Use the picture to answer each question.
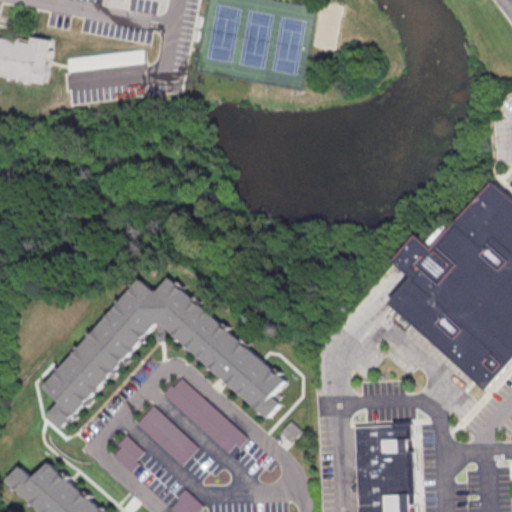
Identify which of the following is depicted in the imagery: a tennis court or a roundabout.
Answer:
tennis court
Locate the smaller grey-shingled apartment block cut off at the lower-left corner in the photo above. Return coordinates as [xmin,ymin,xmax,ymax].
[2,464,106,512]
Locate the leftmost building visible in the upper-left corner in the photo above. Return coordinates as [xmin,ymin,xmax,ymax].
[0,37,55,84]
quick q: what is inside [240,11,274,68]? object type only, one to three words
tennis court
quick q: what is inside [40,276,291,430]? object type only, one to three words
building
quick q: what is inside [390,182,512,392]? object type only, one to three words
building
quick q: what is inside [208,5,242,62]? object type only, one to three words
tennis court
